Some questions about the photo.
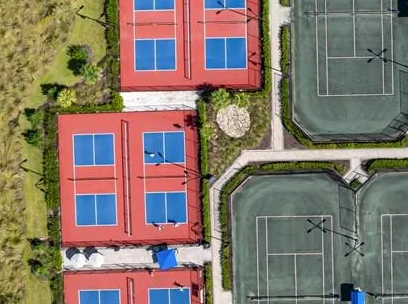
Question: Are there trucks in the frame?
No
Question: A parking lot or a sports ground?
sports ground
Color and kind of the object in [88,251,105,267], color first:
white umbrella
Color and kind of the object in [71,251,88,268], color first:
white umbrella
